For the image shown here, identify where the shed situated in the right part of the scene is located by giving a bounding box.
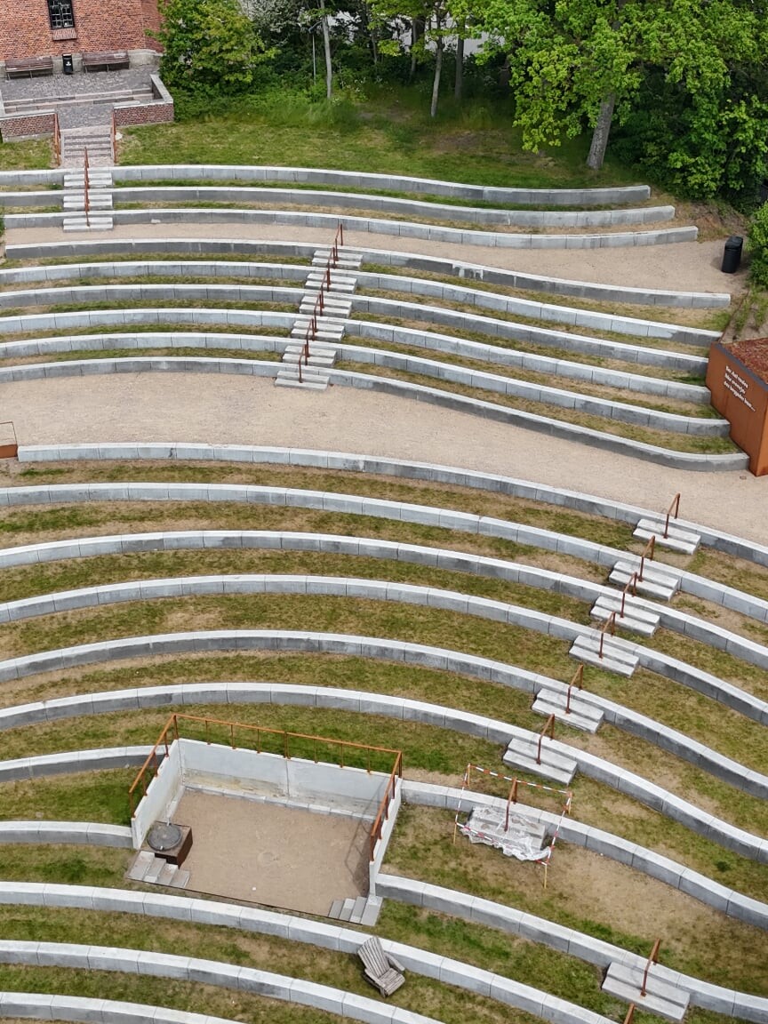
[702,332,768,474]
